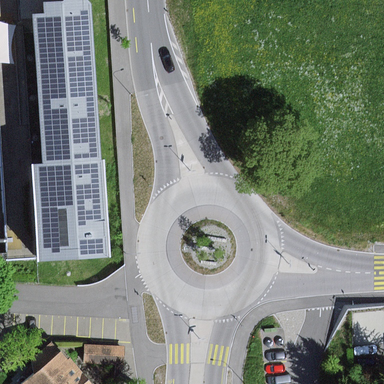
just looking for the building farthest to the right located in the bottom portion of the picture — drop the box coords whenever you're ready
[82,344,124,364]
